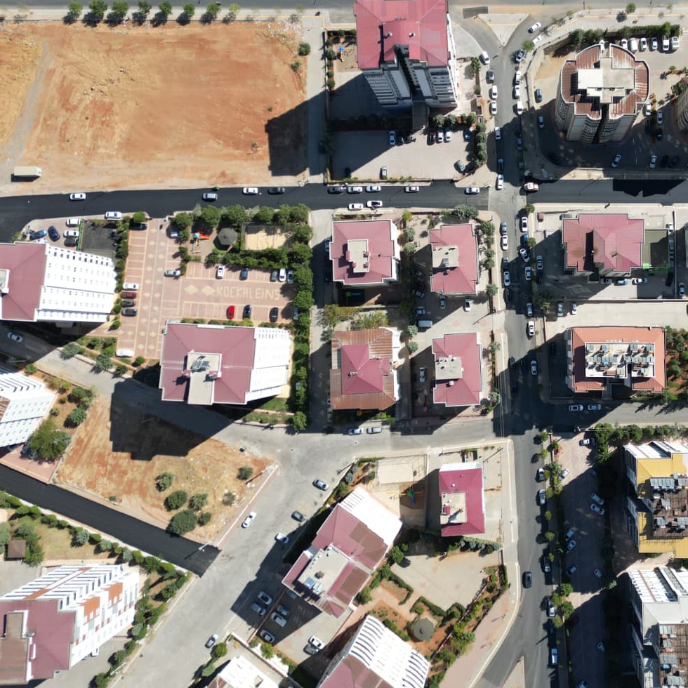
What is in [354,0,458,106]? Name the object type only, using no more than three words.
building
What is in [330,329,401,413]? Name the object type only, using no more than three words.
building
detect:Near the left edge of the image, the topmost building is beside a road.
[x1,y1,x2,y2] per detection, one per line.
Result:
[0,243,110,323]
